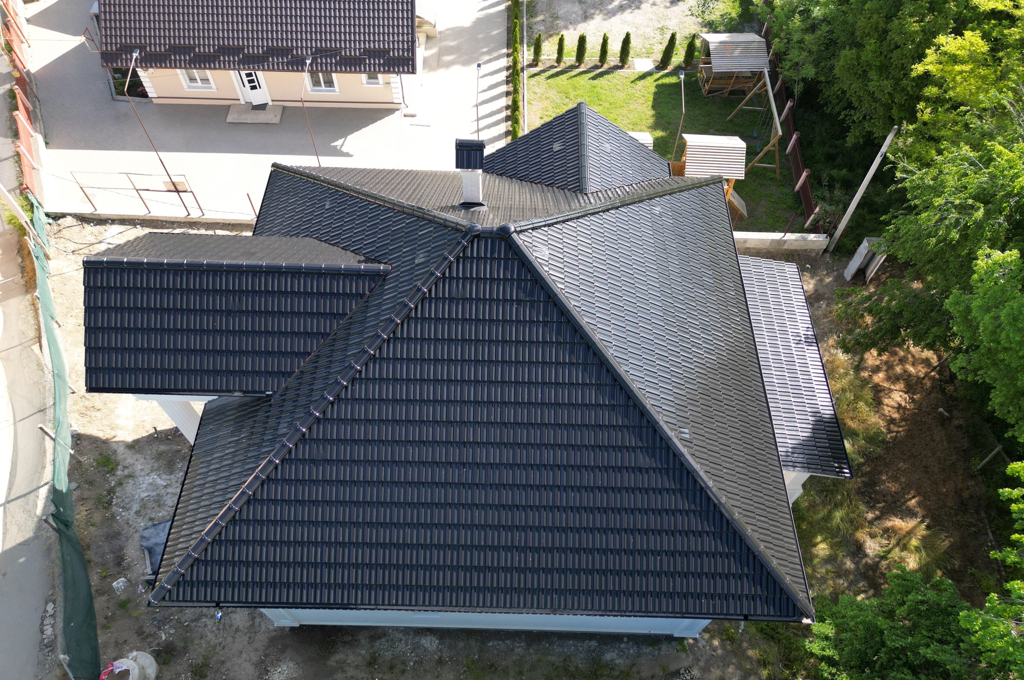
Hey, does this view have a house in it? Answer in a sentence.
Yes, there's a house down there.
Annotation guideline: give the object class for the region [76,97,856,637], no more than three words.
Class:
house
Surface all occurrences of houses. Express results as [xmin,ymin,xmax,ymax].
[95,0,419,124]
[76,97,856,637]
